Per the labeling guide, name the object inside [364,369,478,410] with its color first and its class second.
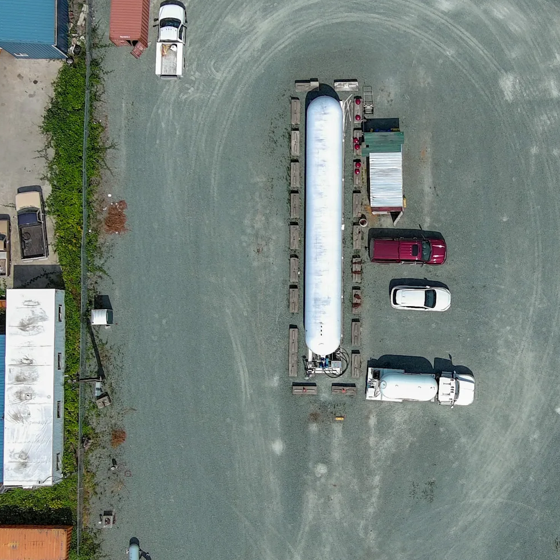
white truck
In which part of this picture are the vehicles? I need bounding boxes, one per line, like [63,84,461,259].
[0,215,11,278]
[364,369,478,410]
[364,227,446,267]
[12,187,49,262]
[150,4,189,83]
[391,283,452,314]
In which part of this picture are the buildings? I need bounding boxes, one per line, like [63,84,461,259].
[0,0,69,58]
[3,288,63,489]
[362,131,403,217]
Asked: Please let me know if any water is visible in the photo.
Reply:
No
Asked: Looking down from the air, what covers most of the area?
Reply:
paved ground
